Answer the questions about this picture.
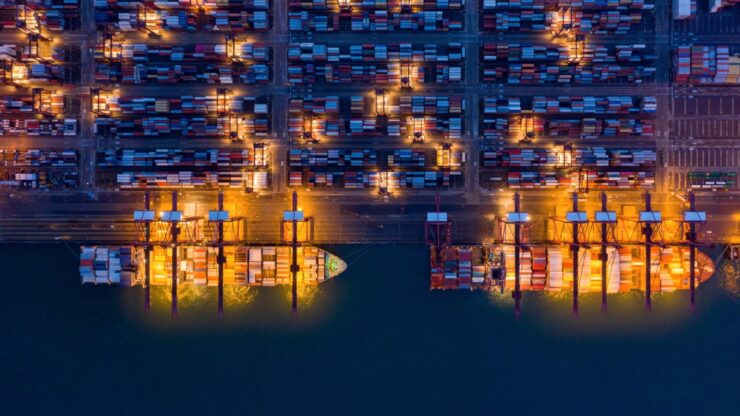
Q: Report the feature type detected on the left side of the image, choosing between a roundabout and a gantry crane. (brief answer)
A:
gantry crane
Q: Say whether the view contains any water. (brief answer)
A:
Yes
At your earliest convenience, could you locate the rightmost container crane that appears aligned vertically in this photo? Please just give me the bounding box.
[651,190,713,318]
